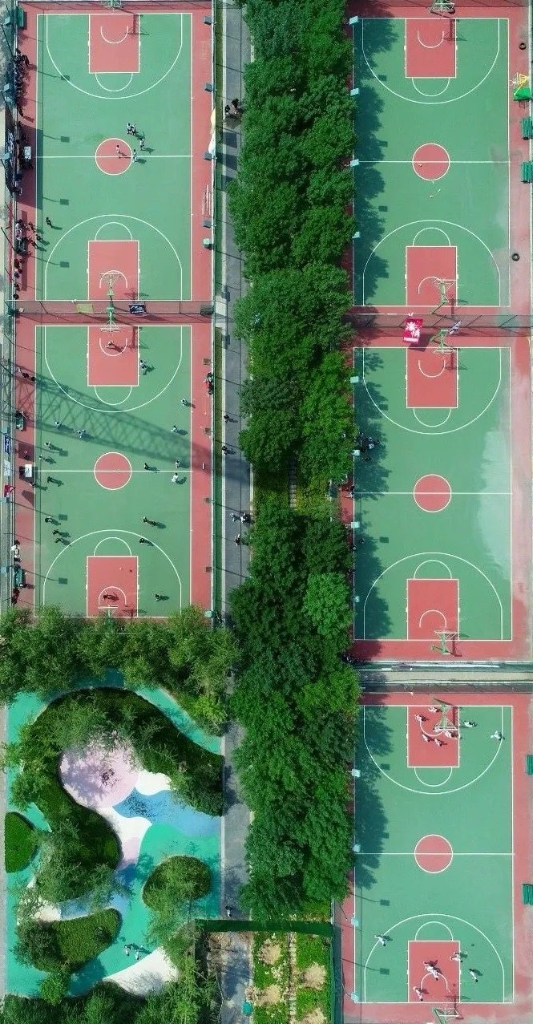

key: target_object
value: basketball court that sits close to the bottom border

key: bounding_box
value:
[335,685,533,1024]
